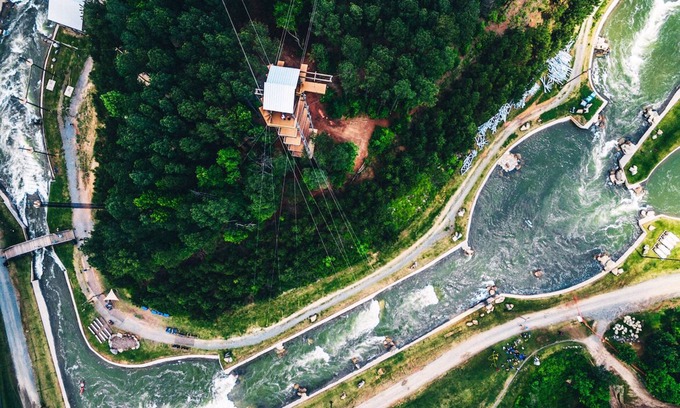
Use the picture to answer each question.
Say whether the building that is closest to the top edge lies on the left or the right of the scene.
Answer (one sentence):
The building that is closest to the top edge appears in the left half of the scene.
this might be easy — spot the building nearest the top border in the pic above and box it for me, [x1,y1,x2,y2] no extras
[48,0,94,33]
